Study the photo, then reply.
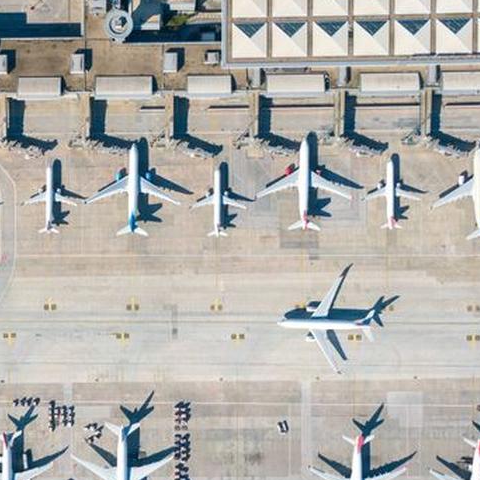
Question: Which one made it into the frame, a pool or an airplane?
airplane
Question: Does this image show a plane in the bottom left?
Yes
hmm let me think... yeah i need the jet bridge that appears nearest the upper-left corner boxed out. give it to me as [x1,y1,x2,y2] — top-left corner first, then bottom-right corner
[0,142,46,167]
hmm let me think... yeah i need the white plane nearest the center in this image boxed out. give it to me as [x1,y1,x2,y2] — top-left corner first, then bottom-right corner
[189,168,246,236]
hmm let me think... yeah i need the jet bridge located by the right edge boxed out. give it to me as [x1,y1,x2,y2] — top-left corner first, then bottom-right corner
[421,140,474,166]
